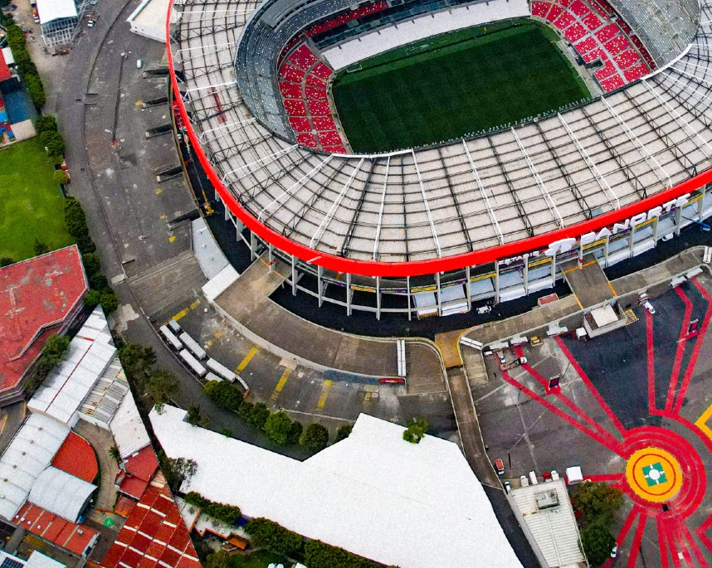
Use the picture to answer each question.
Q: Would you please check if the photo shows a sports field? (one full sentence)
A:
Yes, a sports field appears in the view.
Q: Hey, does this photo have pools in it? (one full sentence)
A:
No, the picture doesn't show any pool.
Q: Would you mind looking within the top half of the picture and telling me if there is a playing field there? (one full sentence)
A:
Yes, I can see a playing field within the top half of the picture.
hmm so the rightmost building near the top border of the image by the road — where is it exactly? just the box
[128,0,181,55]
